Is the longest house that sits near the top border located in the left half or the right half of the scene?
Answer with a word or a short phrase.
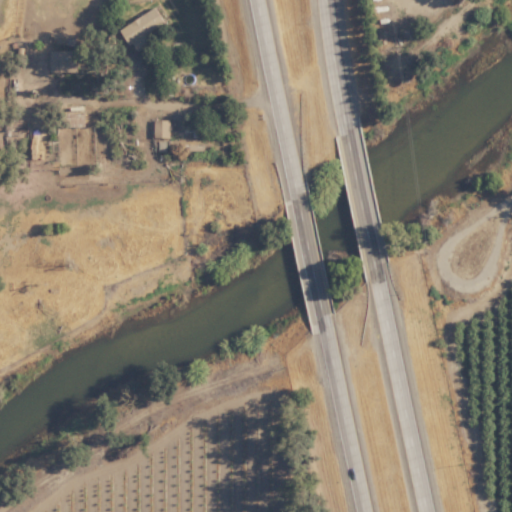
left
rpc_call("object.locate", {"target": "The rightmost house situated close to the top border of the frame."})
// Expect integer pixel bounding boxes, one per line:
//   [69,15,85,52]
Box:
[120,8,167,46]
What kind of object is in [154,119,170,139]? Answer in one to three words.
shed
